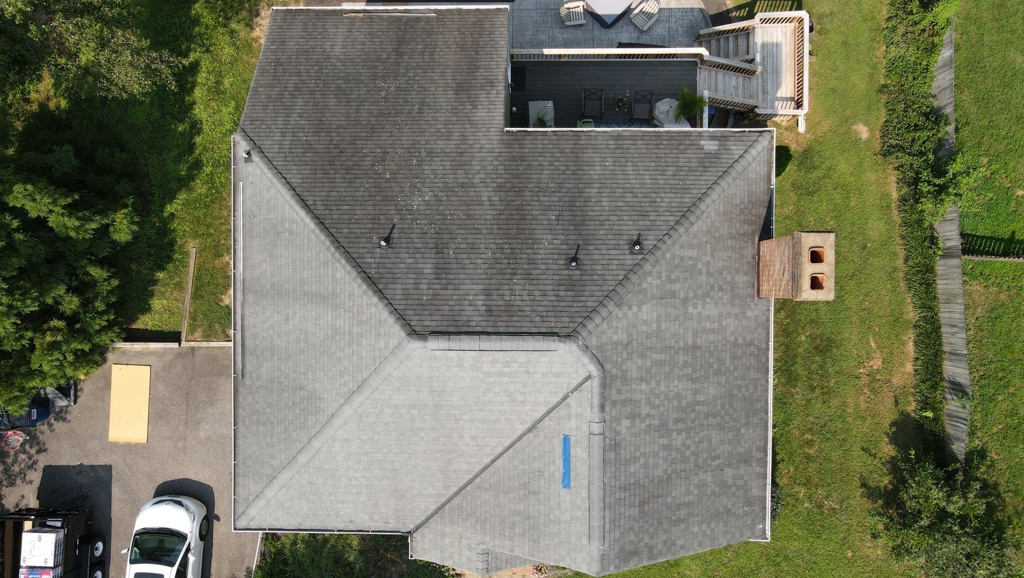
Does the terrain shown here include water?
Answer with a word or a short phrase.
No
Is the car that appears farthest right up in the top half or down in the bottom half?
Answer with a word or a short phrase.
bottom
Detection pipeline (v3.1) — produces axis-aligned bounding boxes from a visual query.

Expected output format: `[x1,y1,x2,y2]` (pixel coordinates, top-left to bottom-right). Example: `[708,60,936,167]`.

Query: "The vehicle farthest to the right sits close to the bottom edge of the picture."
[124,490,204,578]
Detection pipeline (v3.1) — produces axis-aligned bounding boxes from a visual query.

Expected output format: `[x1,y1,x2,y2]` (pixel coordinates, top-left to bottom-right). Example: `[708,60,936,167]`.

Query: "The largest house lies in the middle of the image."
[232,4,838,577]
